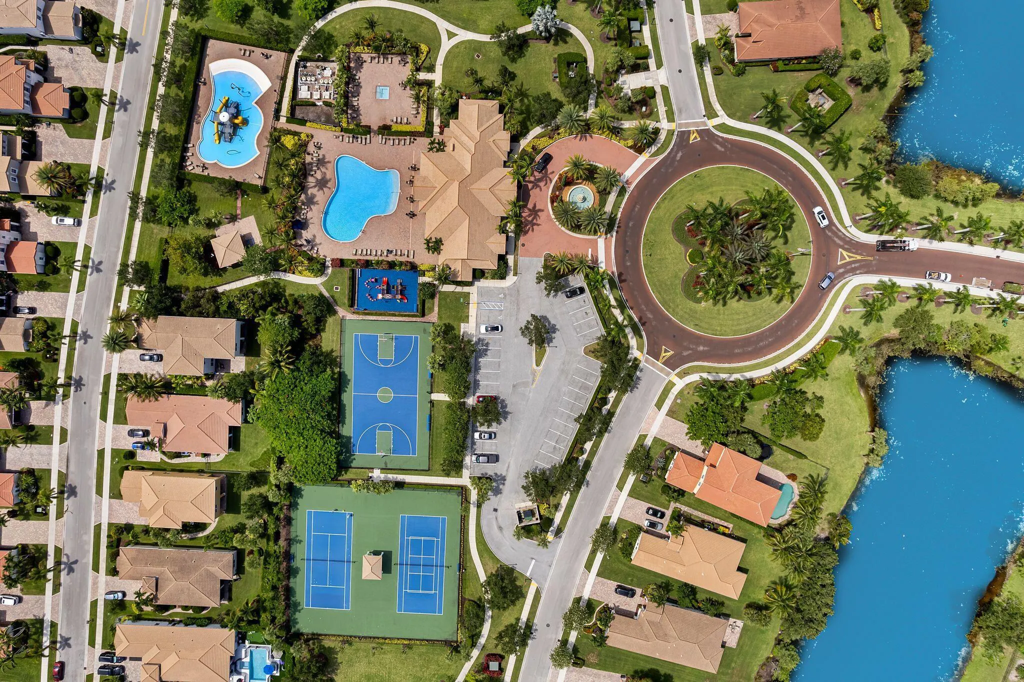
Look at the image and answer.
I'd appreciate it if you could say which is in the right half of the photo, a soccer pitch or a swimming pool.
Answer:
swimming pool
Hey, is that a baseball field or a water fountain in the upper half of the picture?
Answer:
water fountain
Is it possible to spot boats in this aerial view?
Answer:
No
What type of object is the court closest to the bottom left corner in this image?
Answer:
tennis court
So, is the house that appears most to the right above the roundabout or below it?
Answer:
above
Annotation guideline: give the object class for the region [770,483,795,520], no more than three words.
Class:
swimming pool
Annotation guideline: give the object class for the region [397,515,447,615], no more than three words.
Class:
tennis court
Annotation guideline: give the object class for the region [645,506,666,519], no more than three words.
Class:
vehicle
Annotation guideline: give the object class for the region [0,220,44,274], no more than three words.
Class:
house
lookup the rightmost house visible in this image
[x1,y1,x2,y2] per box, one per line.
[733,0,841,64]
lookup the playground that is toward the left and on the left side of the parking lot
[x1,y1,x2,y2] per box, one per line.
[355,269,418,313]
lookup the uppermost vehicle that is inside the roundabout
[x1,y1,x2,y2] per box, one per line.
[812,206,829,228]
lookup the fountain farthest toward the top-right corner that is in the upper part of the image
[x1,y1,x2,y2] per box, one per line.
[569,185,595,211]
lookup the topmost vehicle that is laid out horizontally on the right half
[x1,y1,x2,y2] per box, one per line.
[870,239,917,252]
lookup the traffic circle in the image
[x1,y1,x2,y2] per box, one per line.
[612,126,1024,376]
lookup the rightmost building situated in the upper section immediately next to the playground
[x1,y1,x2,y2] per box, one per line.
[413,97,517,281]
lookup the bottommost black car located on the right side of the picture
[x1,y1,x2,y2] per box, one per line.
[615,584,635,597]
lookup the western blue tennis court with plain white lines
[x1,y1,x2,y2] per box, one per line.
[304,510,353,610]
